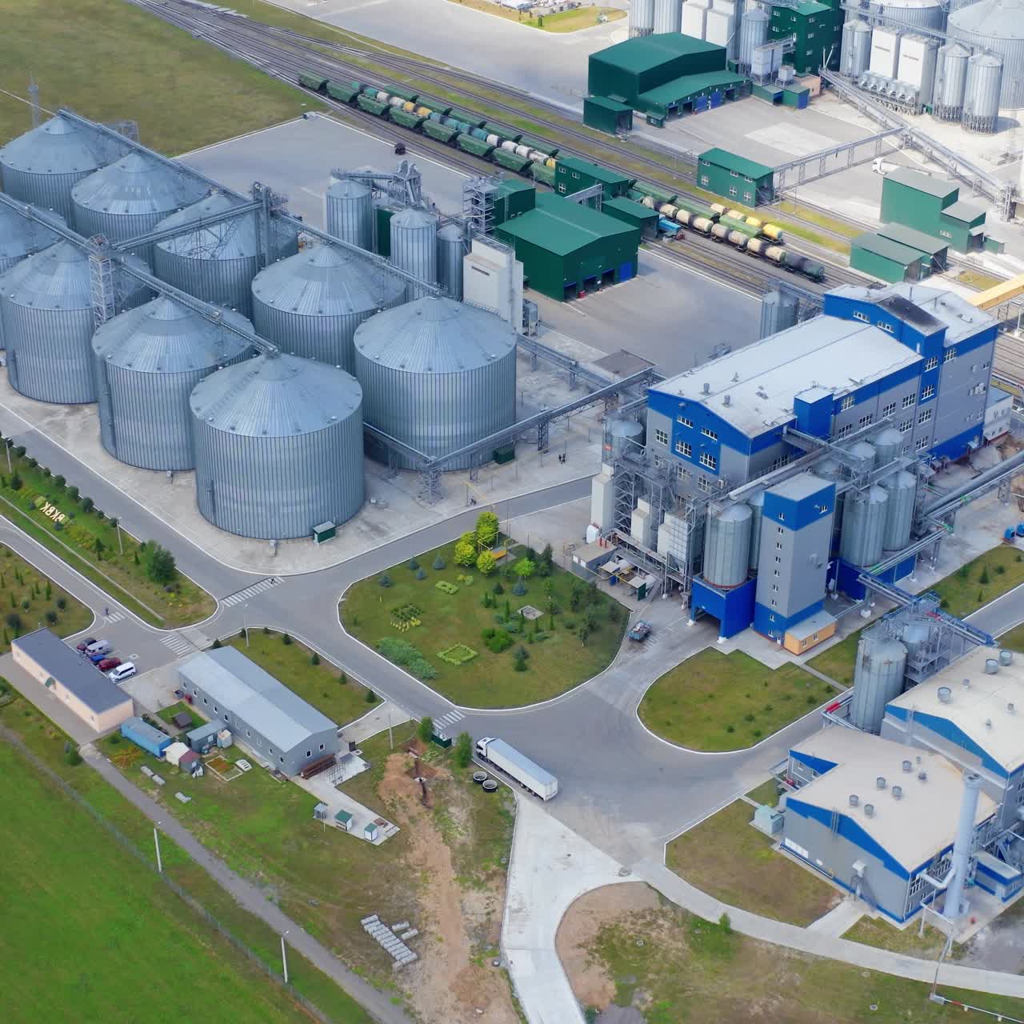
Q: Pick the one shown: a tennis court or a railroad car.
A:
railroad car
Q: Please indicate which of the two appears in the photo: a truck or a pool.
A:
truck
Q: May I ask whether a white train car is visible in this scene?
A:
Yes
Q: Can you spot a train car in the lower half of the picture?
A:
No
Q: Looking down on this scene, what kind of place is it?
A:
industrial area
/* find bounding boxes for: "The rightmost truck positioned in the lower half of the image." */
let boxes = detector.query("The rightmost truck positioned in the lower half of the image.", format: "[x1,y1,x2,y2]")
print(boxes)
[627,617,656,640]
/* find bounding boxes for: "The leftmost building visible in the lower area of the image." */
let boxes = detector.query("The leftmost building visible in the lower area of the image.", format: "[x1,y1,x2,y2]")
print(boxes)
[9,624,135,731]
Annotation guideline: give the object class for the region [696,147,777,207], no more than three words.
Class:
building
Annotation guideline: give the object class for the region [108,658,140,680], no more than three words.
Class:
vehicle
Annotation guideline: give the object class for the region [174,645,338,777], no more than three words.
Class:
building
